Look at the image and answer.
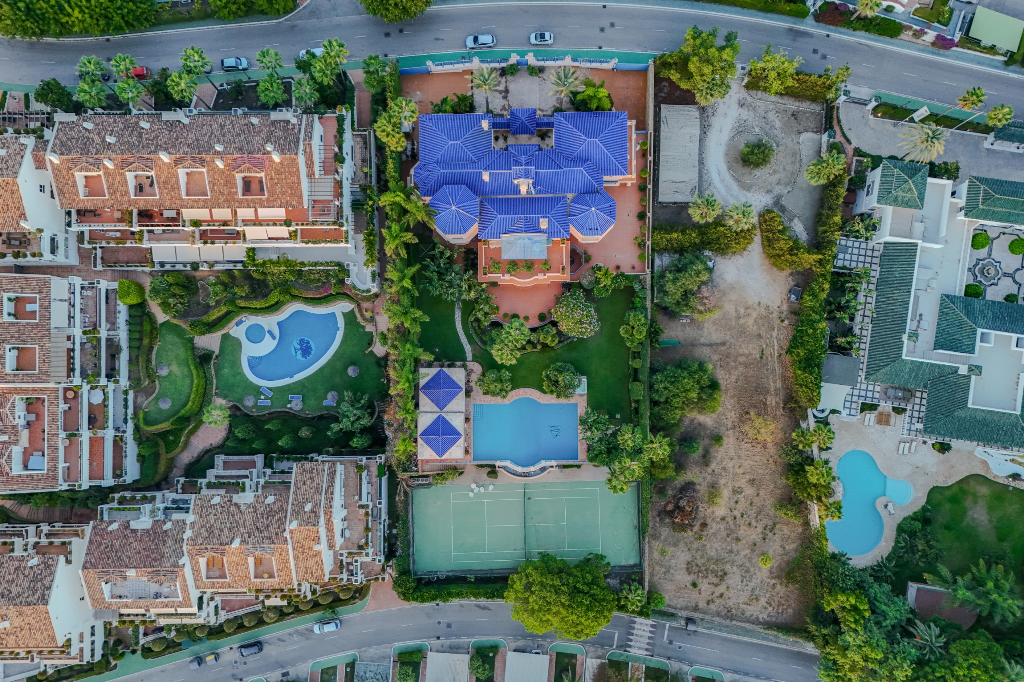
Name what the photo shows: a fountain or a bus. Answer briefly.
fountain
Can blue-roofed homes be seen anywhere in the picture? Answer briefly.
Yes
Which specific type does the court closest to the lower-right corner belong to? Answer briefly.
tennis court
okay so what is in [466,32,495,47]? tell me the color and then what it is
blue car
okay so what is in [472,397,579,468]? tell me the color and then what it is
blue swimming pool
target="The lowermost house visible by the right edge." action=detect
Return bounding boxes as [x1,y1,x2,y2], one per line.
[853,159,1024,448]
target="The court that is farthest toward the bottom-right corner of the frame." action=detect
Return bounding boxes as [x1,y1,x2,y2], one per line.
[413,482,640,573]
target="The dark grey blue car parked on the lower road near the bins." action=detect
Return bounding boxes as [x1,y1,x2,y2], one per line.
[234,642,263,660]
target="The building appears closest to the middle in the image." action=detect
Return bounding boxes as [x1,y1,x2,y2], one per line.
[419,367,465,411]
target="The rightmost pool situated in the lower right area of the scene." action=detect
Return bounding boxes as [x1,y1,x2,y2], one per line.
[825,449,915,556]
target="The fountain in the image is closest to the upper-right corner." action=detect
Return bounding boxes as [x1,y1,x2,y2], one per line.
[973,255,1005,287]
